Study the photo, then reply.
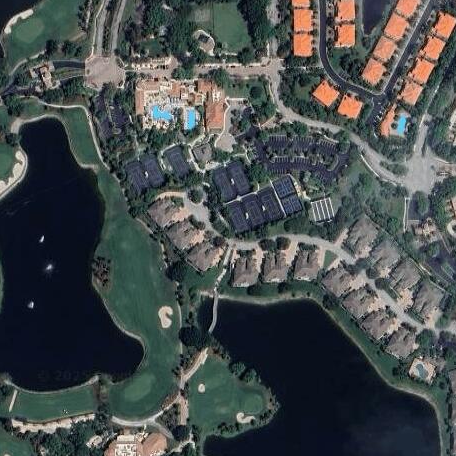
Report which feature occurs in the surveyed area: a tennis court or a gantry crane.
tennis court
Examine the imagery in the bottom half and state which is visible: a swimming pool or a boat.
swimming pool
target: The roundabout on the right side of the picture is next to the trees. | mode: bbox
[395,142,440,194]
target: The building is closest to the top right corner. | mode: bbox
[435,11,456,37]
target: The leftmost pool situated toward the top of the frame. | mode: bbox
[152,104,174,121]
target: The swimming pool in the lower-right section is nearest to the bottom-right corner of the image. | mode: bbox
[409,358,435,383]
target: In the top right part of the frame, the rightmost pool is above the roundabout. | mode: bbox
[393,112,412,137]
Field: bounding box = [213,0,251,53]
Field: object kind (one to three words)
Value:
sports field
